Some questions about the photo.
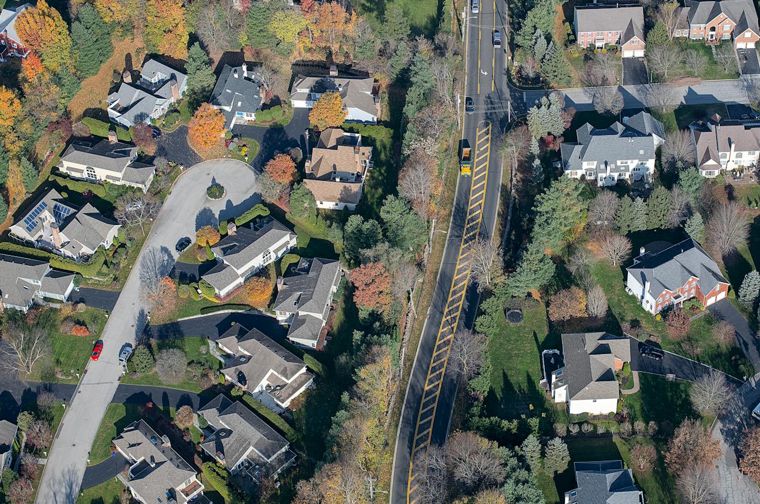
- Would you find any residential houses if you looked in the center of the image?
Yes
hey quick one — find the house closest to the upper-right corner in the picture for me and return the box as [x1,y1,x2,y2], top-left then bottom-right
[669,0,760,50]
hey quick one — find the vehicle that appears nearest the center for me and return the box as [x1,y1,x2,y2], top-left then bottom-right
[459,148,473,180]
